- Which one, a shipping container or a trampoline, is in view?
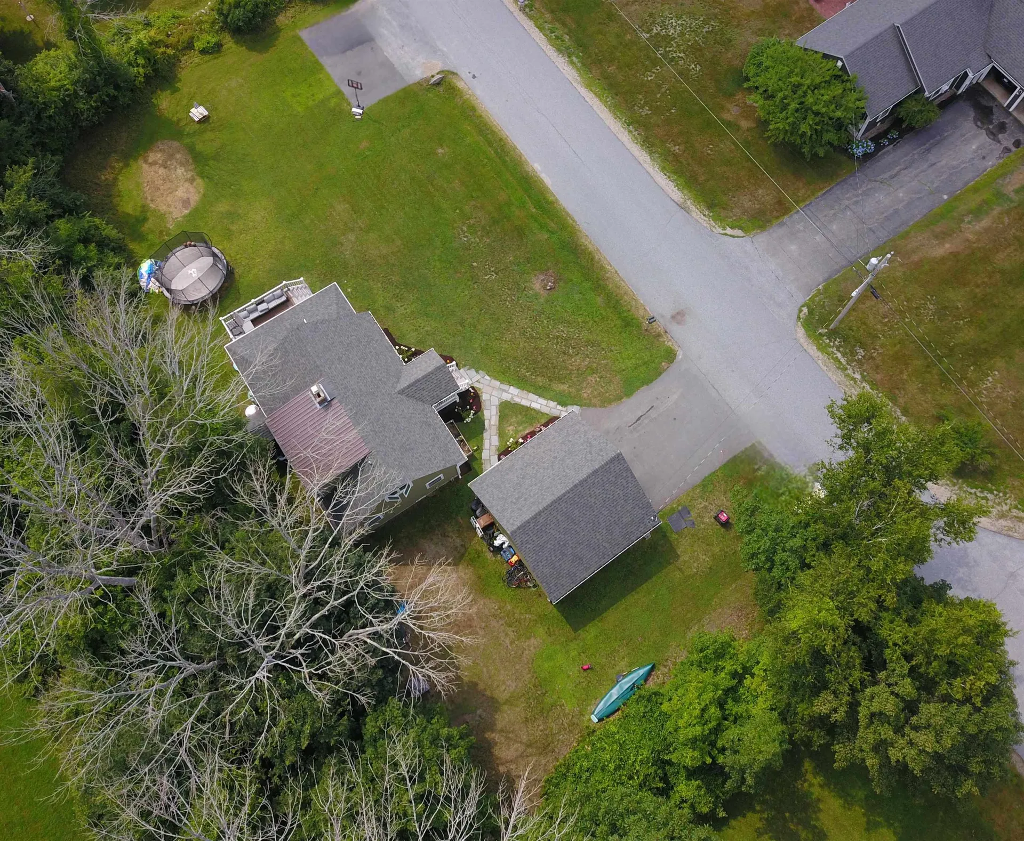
trampoline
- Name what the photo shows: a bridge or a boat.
boat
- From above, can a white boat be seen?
No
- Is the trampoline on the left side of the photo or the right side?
left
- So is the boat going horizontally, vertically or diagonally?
diagonally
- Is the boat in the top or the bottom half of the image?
bottom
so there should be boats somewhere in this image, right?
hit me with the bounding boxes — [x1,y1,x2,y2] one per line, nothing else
[590,663,655,723]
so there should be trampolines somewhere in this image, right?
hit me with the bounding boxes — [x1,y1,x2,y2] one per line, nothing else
[142,229,231,313]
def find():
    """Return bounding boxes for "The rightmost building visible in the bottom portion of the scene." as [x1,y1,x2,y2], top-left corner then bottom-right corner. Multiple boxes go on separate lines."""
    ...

[467,408,665,605]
